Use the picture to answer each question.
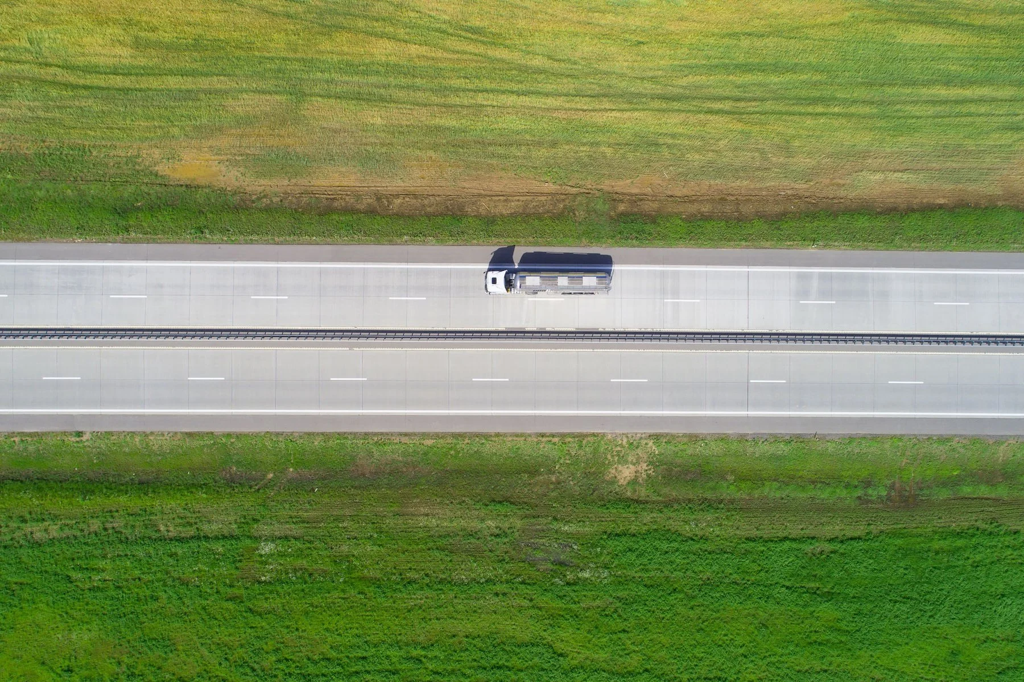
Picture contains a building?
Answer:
No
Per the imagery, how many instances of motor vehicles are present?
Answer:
1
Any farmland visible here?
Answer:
Yes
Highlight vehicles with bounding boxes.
[484,268,612,296]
